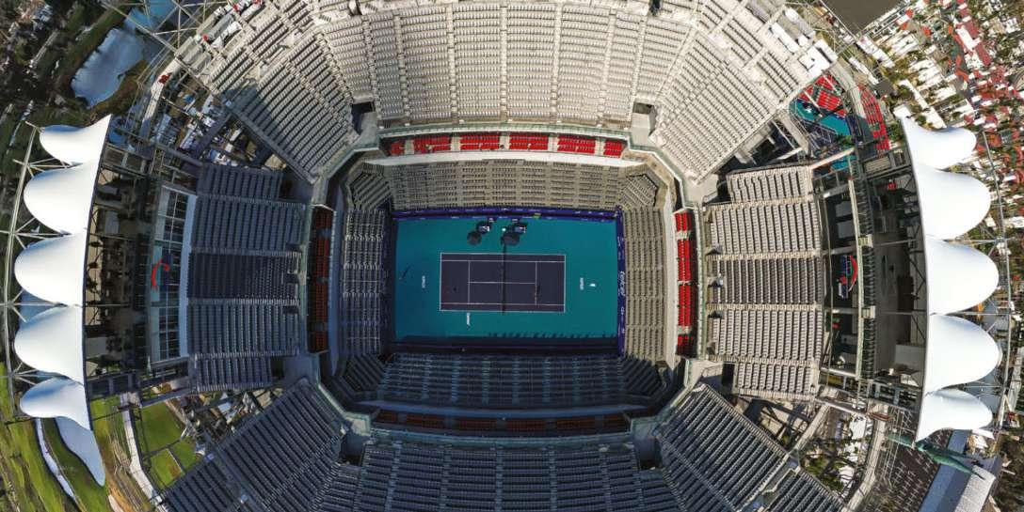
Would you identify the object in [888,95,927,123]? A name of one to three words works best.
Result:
house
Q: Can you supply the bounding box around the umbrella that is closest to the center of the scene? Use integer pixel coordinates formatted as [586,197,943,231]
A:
[503,230,517,244]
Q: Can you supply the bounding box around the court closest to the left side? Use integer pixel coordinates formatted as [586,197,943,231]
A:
[389,215,618,352]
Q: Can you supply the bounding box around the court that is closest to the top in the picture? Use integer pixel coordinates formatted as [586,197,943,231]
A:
[770,75,894,179]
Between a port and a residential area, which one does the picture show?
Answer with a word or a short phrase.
residential area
